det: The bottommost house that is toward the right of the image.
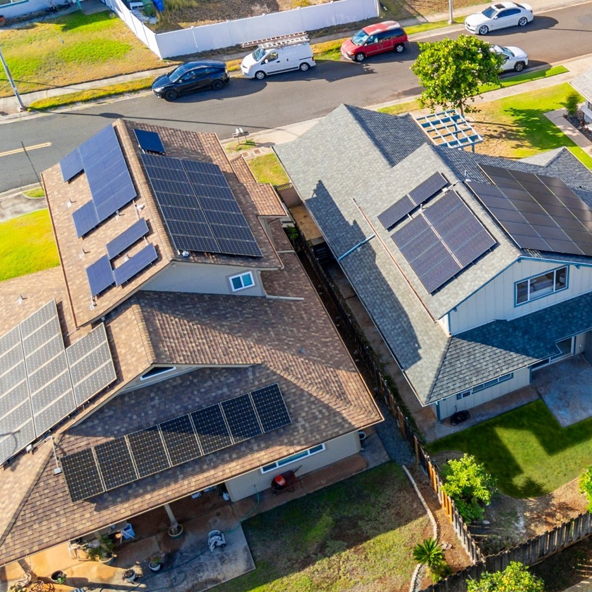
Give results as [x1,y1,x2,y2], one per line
[267,104,592,422]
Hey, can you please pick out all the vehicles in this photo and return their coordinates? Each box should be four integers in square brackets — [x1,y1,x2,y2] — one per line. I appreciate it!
[150,59,232,103]
[338,19,411,63]
[456,41,531,73]
[464,1,537,35]
[241,33,318,80]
